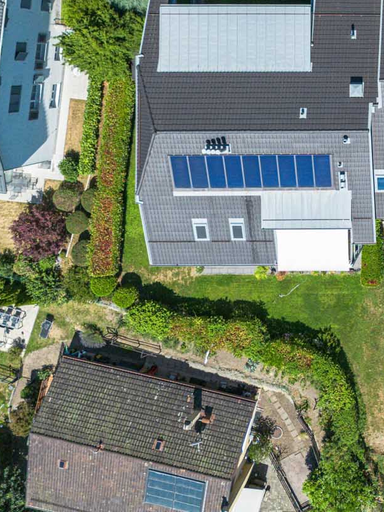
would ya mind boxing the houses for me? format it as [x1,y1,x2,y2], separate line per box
[26,355,266,512]
[133,0,384,272]
[0,0,59,193]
